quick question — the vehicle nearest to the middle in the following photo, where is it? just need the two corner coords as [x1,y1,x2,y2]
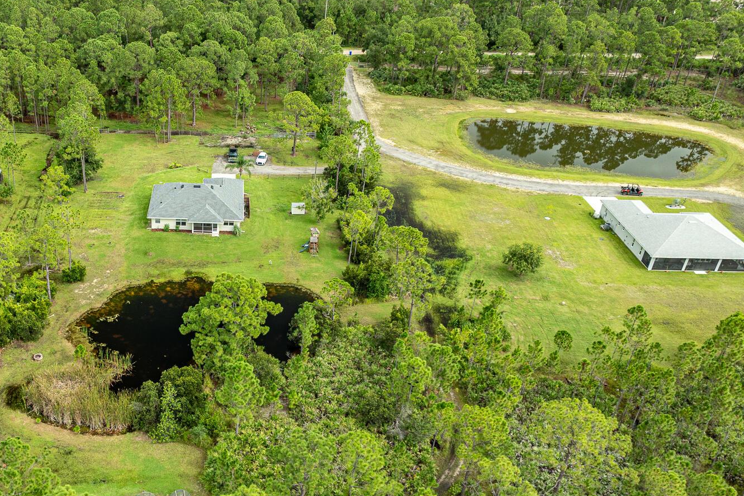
[252,149,266,164]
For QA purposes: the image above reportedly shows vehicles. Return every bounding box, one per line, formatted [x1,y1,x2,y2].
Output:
[227,146,239,162]
[621,180,645,193]
[252,149,266,164]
